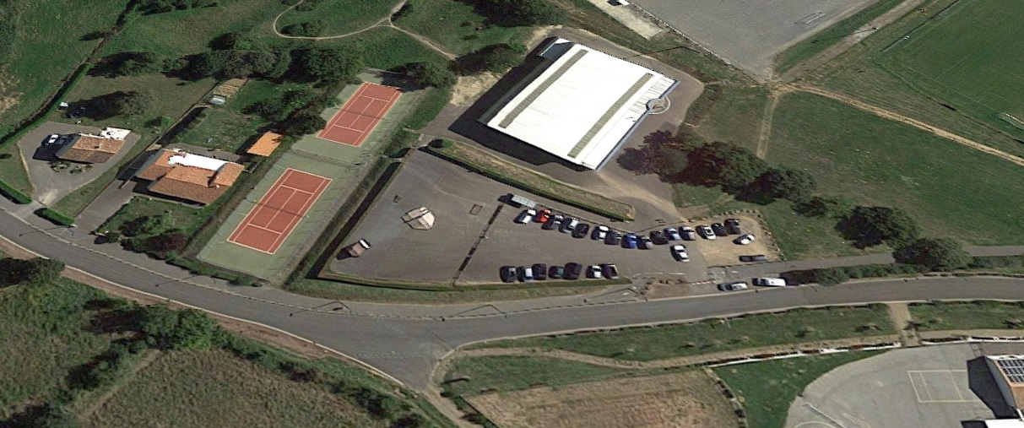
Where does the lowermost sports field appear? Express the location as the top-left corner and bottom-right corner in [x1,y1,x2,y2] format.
[670,87,1024,260]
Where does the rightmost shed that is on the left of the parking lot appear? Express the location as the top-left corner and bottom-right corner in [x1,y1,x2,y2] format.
[247,133,284,160]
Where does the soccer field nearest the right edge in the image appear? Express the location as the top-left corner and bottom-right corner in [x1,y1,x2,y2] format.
[880,0,1024,124]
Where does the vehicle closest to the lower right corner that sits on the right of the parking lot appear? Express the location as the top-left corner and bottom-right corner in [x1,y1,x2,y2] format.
[756,275,785,288]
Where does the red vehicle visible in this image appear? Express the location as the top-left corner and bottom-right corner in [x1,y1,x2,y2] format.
[538,206,552,224]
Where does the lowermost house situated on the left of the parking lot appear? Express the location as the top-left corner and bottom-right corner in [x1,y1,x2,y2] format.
[134,150,245,207]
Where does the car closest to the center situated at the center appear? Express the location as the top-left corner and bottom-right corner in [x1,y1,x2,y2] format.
[519,206,536,223]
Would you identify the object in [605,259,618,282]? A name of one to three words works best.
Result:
vehicle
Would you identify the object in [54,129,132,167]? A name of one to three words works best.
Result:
house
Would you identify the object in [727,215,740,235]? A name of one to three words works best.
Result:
vehicle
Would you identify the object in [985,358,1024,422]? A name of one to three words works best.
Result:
building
